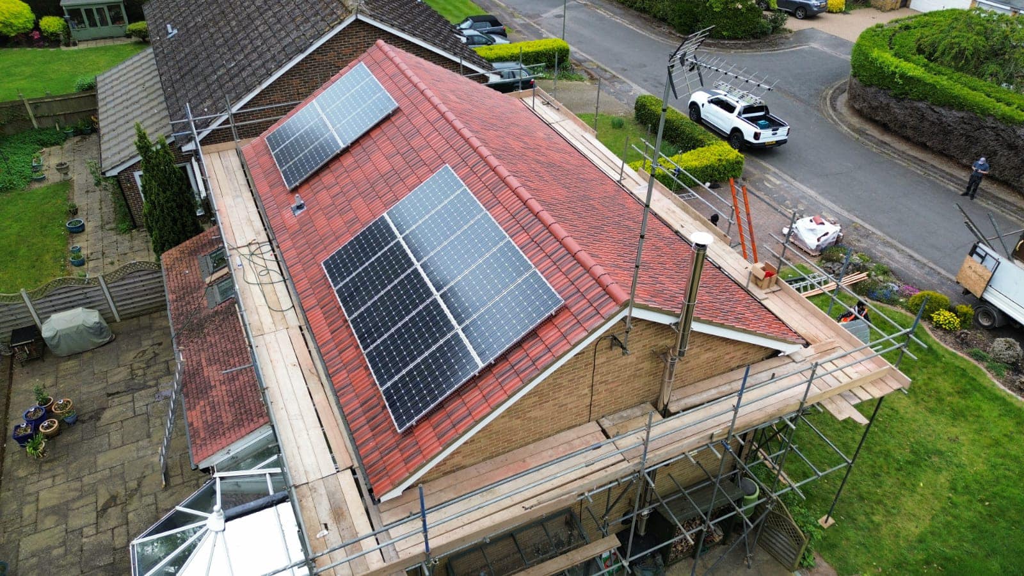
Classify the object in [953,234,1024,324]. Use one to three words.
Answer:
truck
